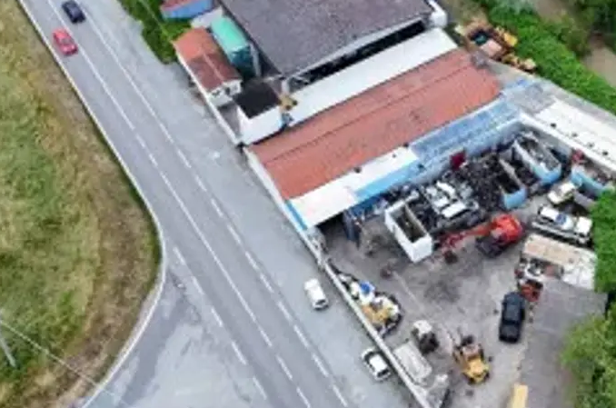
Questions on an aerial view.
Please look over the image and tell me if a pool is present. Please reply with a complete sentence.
No, there appears to be no pool in this shot.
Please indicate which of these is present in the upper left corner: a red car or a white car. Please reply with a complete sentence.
It is a red car that can be seen in the upper left corner.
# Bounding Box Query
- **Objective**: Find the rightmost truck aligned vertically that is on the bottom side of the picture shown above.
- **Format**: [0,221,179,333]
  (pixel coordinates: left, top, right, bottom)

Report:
[500,294,522,343]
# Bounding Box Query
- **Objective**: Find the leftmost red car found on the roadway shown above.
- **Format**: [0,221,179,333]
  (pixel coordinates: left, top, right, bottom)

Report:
[51,30,77,58]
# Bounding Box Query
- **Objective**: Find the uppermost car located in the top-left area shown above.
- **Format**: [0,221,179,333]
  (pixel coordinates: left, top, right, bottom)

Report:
[61,0,86,26]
